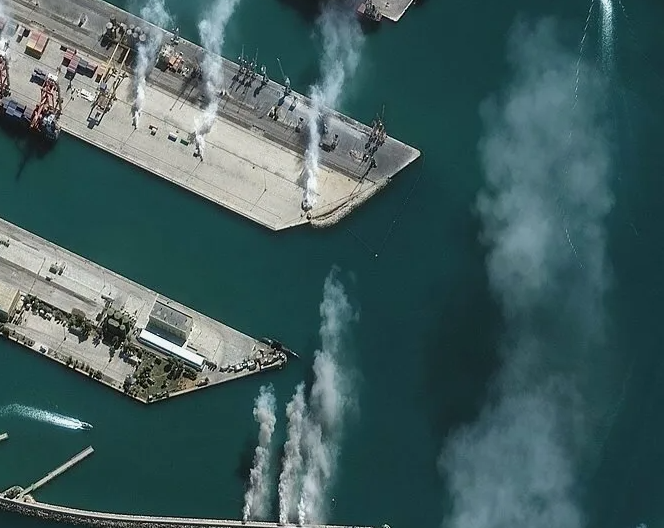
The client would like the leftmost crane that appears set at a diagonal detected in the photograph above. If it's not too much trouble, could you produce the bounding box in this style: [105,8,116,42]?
[21,74,62,134]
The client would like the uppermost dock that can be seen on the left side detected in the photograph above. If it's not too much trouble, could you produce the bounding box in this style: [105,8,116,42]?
[0,0,420,231]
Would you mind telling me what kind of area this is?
port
